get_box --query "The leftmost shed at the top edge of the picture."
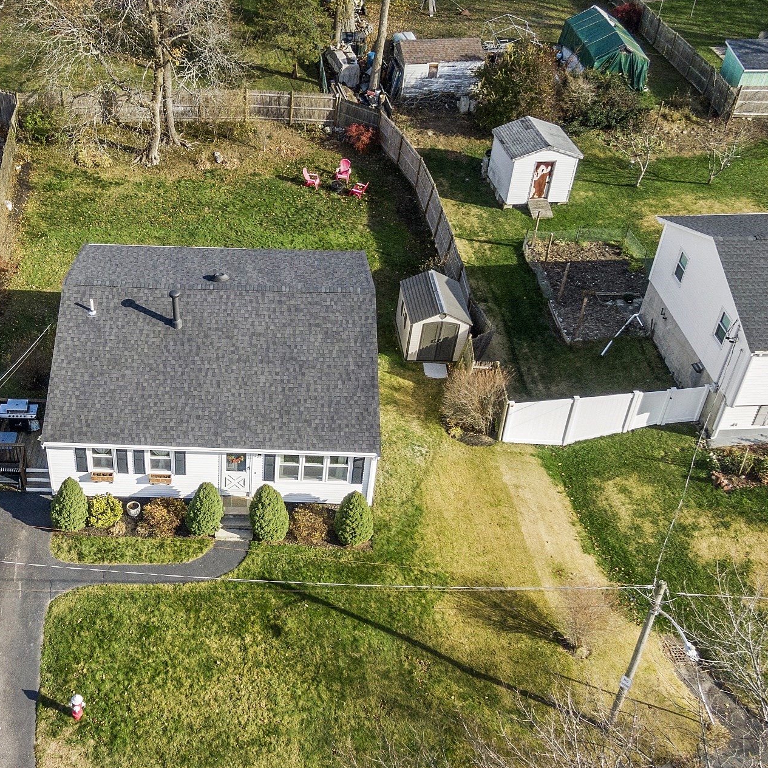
[392,37,489,97]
